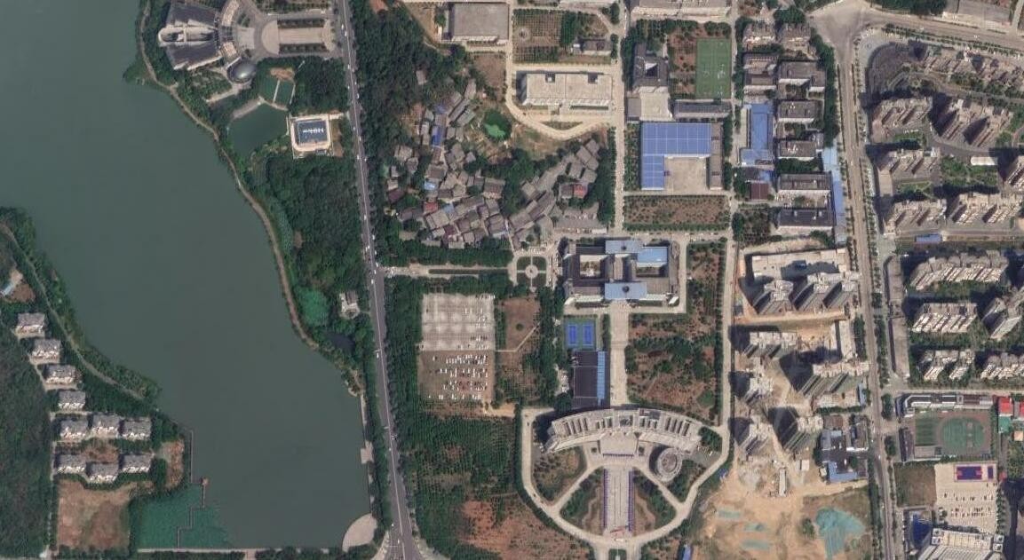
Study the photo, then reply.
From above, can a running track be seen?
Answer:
Yes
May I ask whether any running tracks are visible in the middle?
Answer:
No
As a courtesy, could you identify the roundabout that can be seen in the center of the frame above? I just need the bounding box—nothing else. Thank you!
[517,257,547,287]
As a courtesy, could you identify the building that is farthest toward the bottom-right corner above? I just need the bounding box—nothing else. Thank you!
[922,526,1004,560]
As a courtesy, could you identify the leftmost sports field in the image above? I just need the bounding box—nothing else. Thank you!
[696,38,731,98]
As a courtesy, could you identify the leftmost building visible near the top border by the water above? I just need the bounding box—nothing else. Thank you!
[156,0,239,72]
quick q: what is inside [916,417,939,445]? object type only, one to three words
sports field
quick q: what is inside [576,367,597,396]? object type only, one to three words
sports court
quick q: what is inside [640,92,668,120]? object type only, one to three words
building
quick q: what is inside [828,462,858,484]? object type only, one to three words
shed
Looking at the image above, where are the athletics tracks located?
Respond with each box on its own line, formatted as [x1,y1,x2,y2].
[913,410,992,462]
